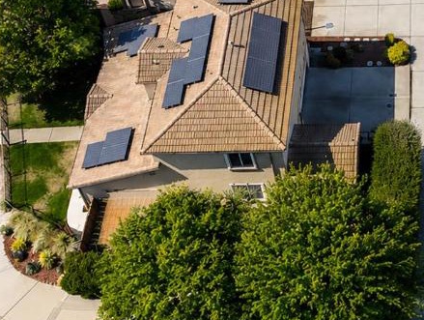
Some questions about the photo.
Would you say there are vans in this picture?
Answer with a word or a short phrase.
No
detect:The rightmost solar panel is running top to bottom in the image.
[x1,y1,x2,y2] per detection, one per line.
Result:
[243,10,282,91]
